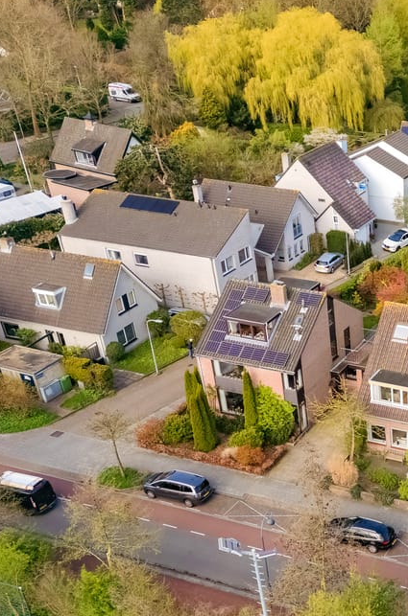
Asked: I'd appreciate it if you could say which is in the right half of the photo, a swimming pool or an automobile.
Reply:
automobile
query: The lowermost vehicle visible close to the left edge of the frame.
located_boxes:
[0,468,53,513]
